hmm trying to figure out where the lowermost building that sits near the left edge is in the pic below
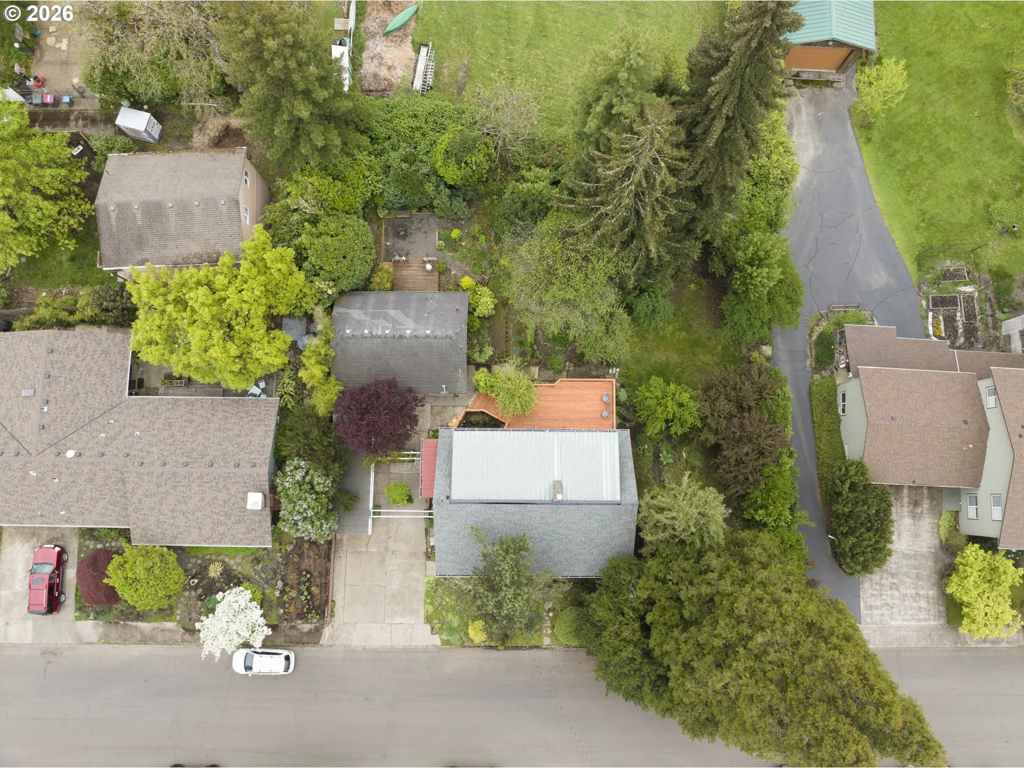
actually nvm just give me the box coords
[0,328,296,549]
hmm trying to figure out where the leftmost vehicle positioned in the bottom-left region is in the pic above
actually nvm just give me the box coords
[26,544,68,614]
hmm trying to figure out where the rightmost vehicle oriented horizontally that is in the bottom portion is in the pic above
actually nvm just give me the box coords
[232,647,297,678]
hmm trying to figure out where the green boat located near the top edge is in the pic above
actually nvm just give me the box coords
[382,4,419,37]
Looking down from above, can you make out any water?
No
